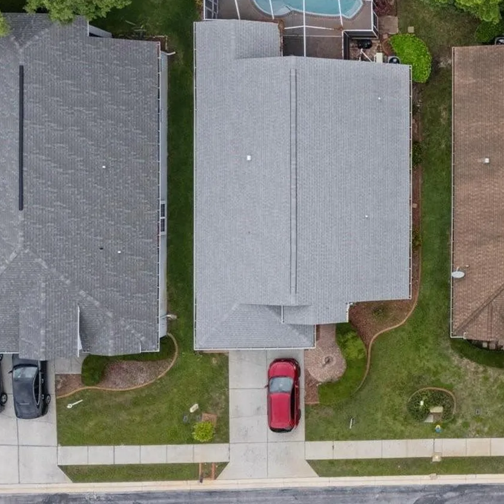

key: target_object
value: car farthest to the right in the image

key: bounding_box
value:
[263,359,302,430]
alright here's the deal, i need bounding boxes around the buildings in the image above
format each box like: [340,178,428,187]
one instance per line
[450,45,504,340]
[0,12,177,361]
[192,18,415,352]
